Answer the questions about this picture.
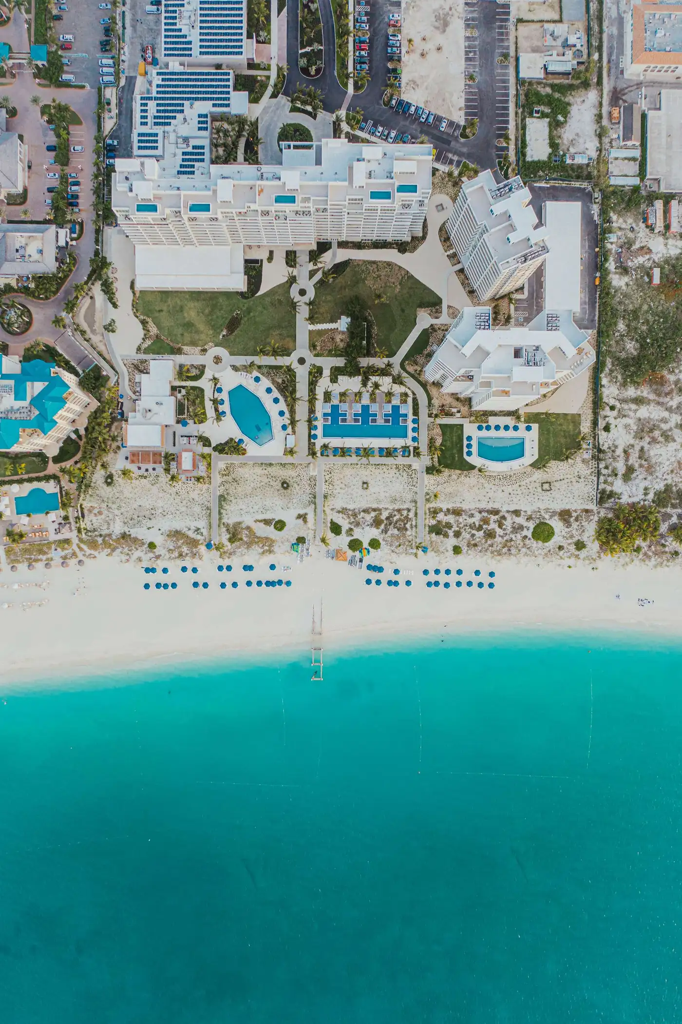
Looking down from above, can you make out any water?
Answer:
Yes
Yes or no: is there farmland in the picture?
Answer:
No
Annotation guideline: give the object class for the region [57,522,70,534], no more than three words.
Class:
gazebo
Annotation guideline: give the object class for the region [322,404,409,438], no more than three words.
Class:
swimming pool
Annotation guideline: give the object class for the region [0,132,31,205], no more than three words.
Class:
house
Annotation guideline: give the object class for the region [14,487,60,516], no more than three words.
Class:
swimming pool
